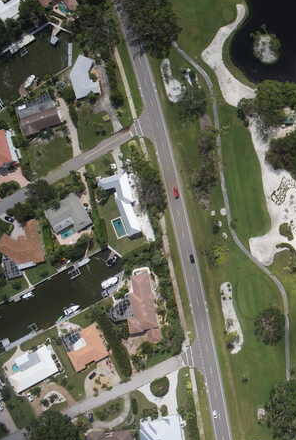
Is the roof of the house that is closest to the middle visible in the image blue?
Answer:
No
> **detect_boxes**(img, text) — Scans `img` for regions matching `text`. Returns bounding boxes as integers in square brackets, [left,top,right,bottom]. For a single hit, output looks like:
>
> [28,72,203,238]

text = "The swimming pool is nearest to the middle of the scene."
[111,215,129,240]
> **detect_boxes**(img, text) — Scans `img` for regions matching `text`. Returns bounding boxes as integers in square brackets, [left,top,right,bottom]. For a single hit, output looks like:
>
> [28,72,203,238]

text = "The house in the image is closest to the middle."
[97,172,142,236]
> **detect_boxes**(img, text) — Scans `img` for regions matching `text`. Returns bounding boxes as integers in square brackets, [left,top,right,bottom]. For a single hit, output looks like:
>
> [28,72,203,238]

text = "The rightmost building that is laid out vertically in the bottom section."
[129,272,163,341]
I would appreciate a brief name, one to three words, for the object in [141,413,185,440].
house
